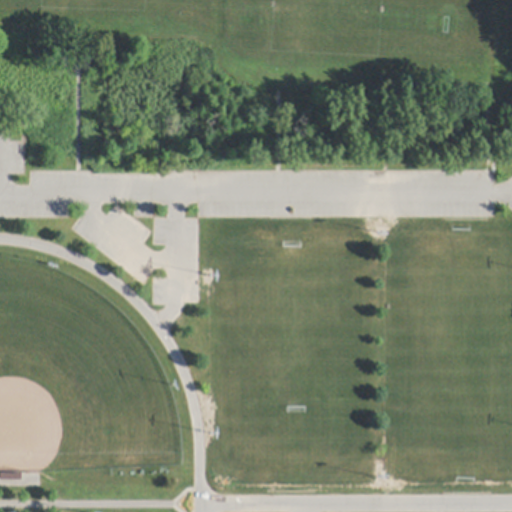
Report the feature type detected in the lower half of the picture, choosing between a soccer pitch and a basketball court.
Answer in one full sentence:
The feature located in the lower half of the picture is a soccer pitch.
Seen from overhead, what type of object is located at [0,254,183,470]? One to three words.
baseball field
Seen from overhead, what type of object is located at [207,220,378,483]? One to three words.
soccer field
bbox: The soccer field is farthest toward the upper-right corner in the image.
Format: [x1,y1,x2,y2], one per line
[270,0,470,56]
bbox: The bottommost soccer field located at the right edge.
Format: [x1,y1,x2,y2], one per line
[386,220,512,483]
